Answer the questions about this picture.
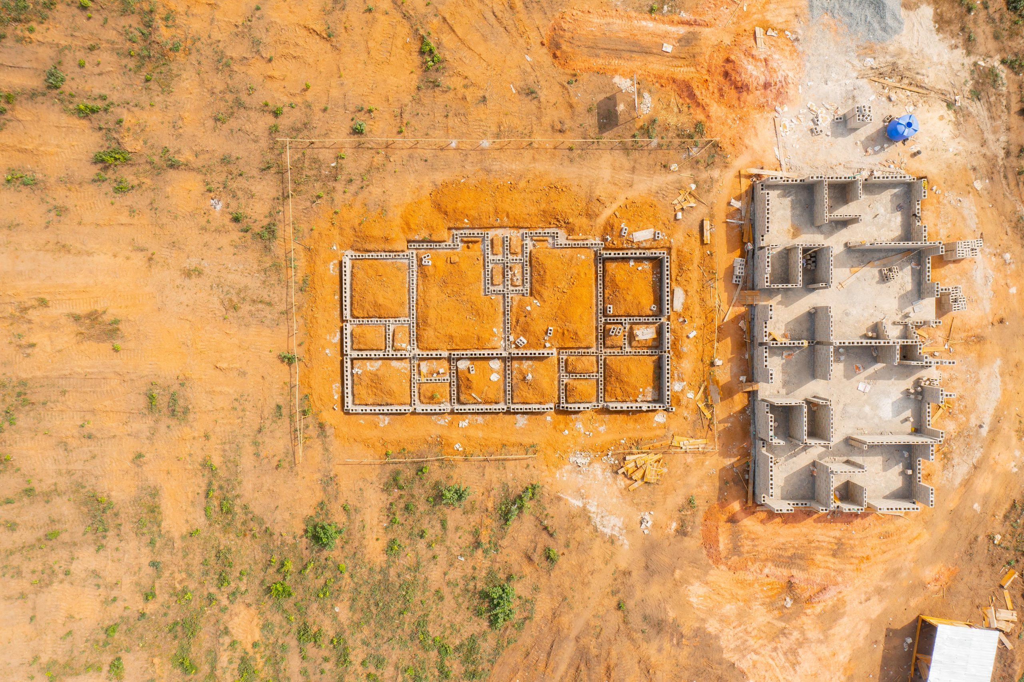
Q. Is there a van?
No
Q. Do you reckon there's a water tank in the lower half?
No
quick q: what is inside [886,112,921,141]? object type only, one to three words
water tank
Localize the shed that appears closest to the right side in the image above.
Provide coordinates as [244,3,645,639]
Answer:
[910,614,1003,682]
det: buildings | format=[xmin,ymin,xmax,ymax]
[910,614,1003,682]
[748,176,956,512]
